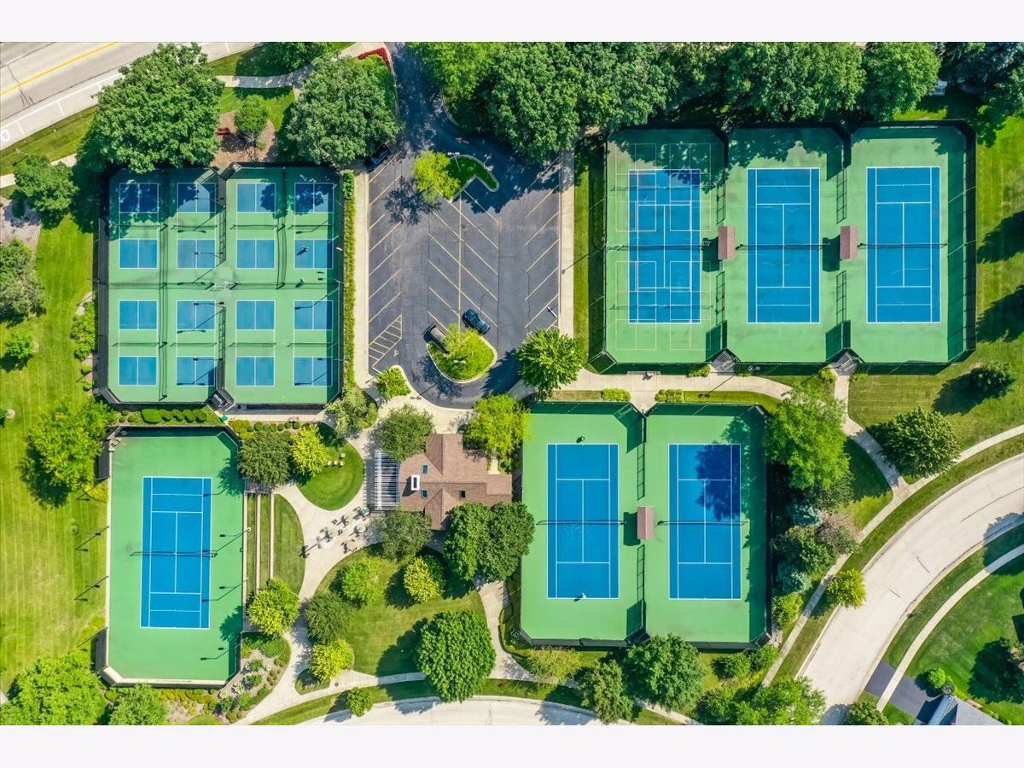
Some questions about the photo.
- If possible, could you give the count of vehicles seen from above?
3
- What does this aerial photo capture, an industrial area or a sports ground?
sports ground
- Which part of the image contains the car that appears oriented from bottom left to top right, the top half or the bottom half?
top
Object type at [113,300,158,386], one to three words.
sports court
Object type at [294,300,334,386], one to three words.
sports court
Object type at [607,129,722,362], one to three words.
tennis court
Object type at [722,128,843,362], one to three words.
tennis court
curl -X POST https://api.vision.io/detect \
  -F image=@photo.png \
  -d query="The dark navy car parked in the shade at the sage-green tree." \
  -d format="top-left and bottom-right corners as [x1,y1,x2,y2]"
[363,142,393,171]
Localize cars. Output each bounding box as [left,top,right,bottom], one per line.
[421,325,450,351]
[461,308,491,334]
[363,142,393,171]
